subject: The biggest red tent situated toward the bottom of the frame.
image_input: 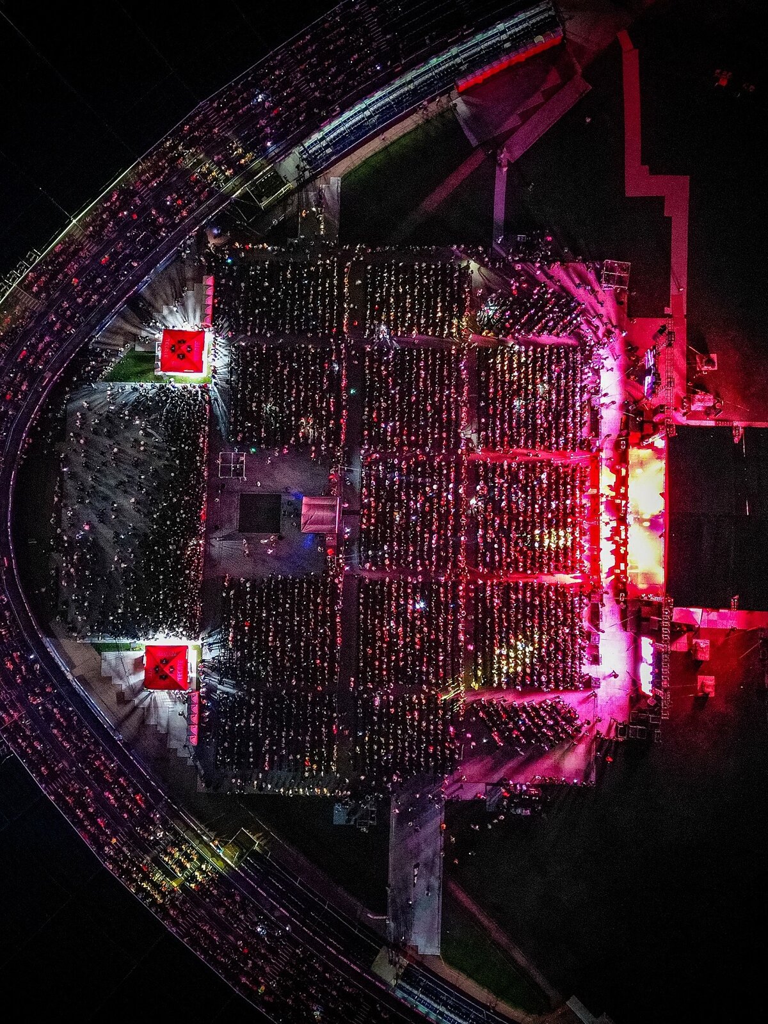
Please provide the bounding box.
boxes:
[145,641,196,690]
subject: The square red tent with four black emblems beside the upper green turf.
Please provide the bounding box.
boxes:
[156,329,211,377]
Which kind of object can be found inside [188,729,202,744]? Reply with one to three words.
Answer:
gazebo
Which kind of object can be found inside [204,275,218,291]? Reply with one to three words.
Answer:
gazebo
